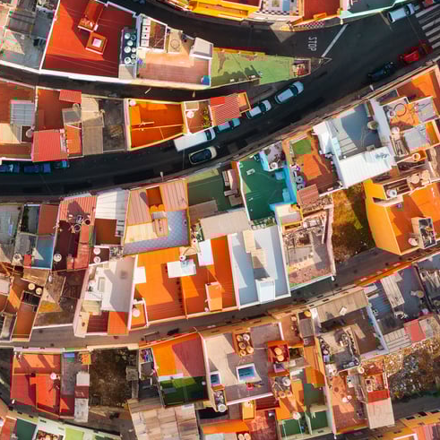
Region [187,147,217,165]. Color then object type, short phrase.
black car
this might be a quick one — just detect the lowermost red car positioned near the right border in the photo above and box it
[401,45,428,64]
